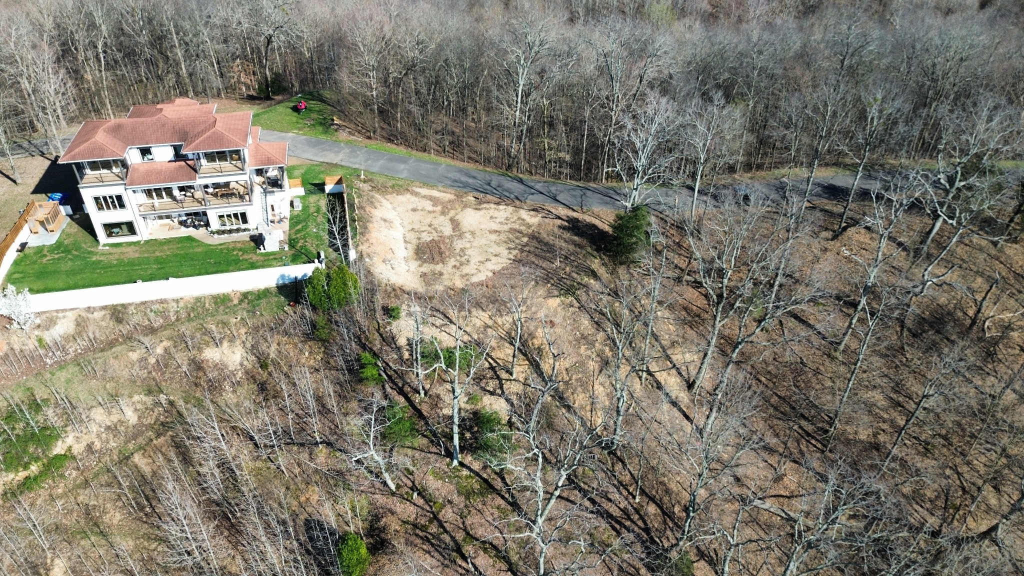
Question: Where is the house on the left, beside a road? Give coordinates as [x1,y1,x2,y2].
[54,93,291,243]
